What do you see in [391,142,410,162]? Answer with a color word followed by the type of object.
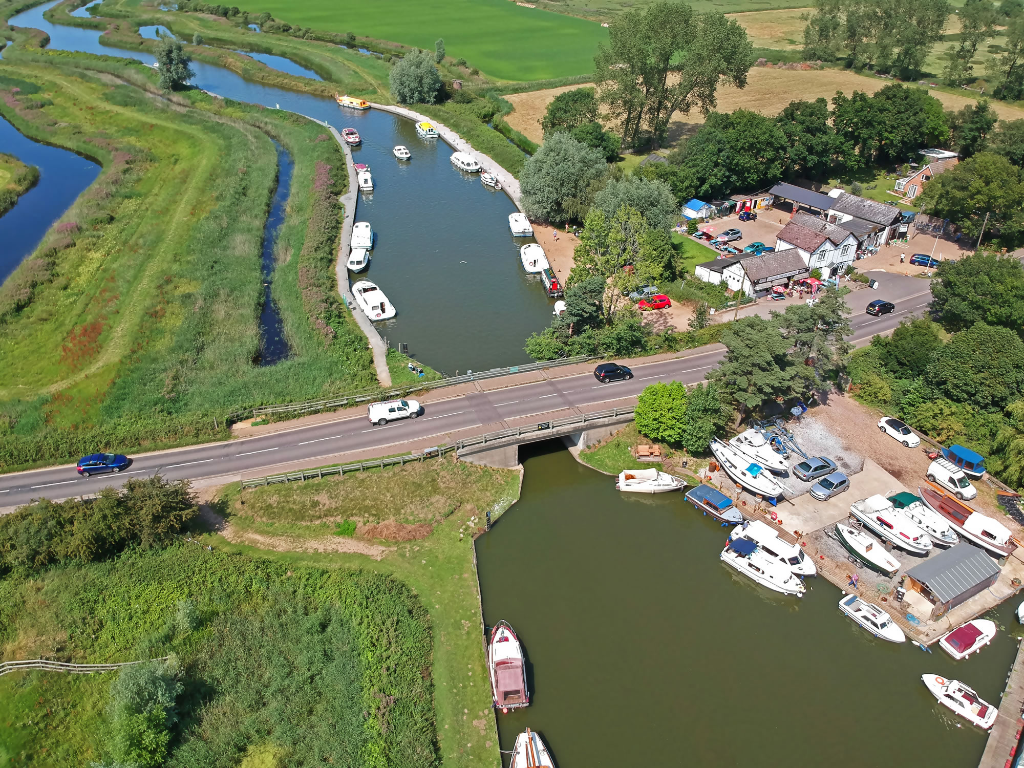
white boat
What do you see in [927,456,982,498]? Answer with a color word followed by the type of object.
white van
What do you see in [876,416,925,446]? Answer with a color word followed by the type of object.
white car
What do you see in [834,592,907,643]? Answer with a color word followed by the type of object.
white boat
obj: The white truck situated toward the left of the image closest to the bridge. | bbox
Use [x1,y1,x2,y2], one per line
[366,396,421,421]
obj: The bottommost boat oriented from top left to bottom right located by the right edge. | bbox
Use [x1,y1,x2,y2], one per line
[918,675,999,737]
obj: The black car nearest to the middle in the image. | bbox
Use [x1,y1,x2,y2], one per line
[594,362,634,380]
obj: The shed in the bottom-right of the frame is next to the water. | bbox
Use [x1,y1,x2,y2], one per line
[889,542,1001,627]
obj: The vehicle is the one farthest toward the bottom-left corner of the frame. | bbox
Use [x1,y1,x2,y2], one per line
[72,450,126,474]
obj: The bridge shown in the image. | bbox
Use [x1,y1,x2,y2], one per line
[442,355,643,465]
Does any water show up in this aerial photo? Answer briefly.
Yes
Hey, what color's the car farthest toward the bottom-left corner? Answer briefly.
blue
